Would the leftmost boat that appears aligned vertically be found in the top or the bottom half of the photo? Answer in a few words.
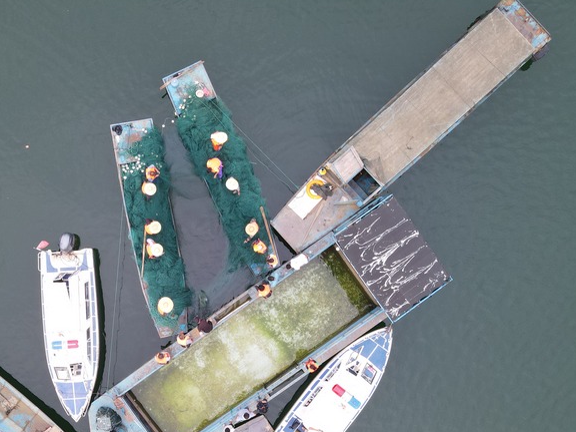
bottom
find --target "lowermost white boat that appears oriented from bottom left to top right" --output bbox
[273,326,395,432]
